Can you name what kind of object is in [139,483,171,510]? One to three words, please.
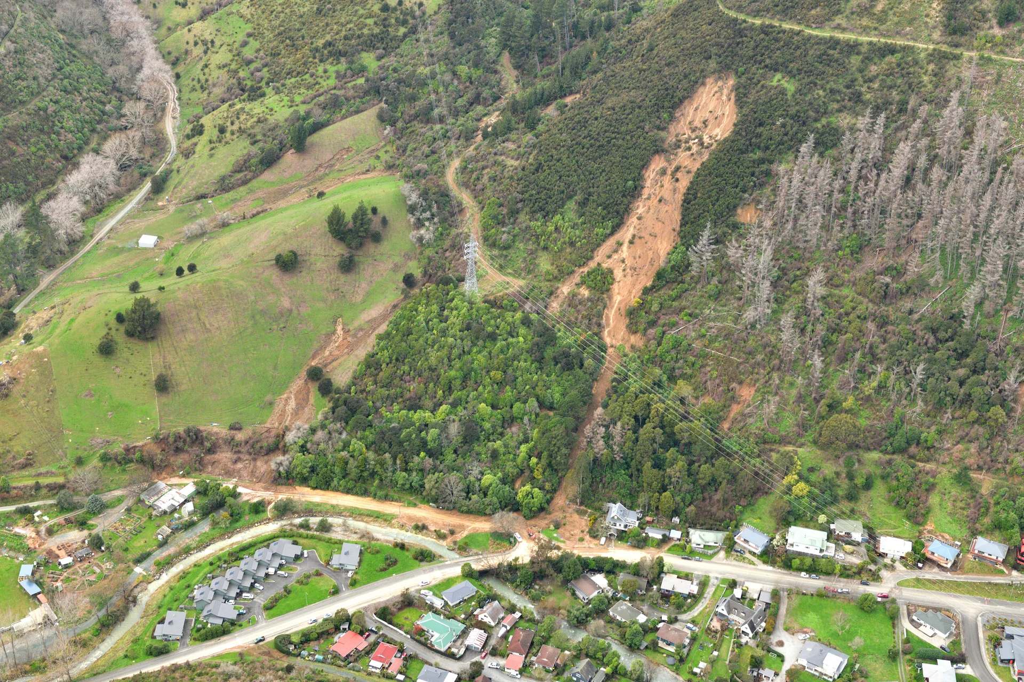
shed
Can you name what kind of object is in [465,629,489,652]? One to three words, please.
building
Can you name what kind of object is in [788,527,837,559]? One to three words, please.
house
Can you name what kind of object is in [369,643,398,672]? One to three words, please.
house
